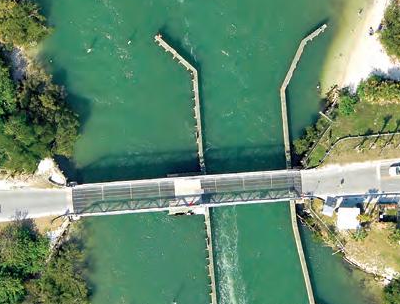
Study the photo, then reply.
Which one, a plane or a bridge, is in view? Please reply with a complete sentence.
Looking from above, you can make out a bridge.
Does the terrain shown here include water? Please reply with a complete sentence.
Yes, water shows up in the scene.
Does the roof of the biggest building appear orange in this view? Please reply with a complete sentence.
No, the color of the roof of the biggest building is white.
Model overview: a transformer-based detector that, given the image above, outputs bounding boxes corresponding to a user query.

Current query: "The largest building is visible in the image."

[336,207,359,228]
